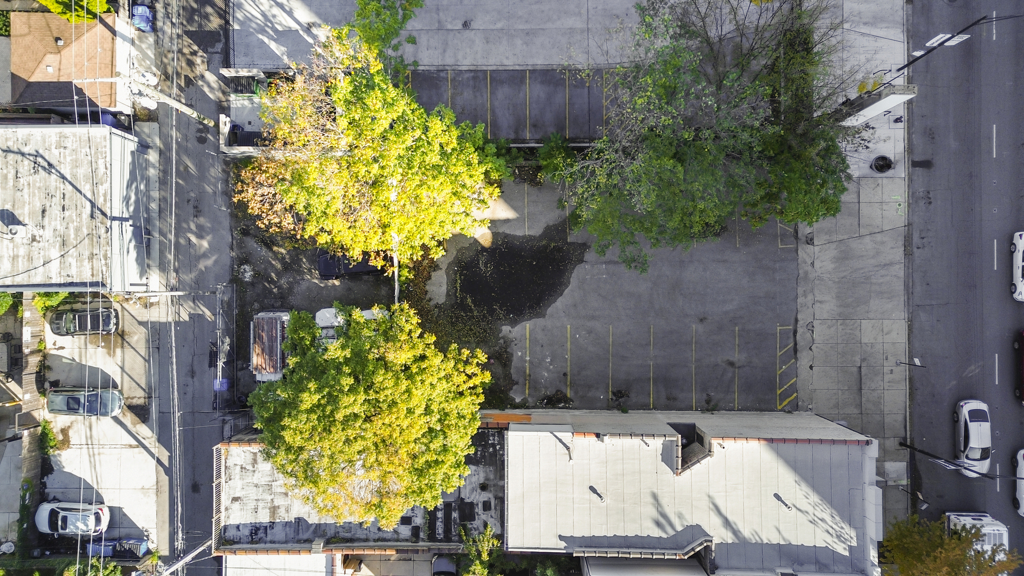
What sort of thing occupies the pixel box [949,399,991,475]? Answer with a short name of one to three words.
car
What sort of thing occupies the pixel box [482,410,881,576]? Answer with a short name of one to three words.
building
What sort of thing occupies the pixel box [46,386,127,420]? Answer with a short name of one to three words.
car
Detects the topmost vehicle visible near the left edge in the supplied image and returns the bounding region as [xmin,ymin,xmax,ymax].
[51,306,122,339]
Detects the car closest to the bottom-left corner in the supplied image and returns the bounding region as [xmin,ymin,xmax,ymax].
[37,501,114,538]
